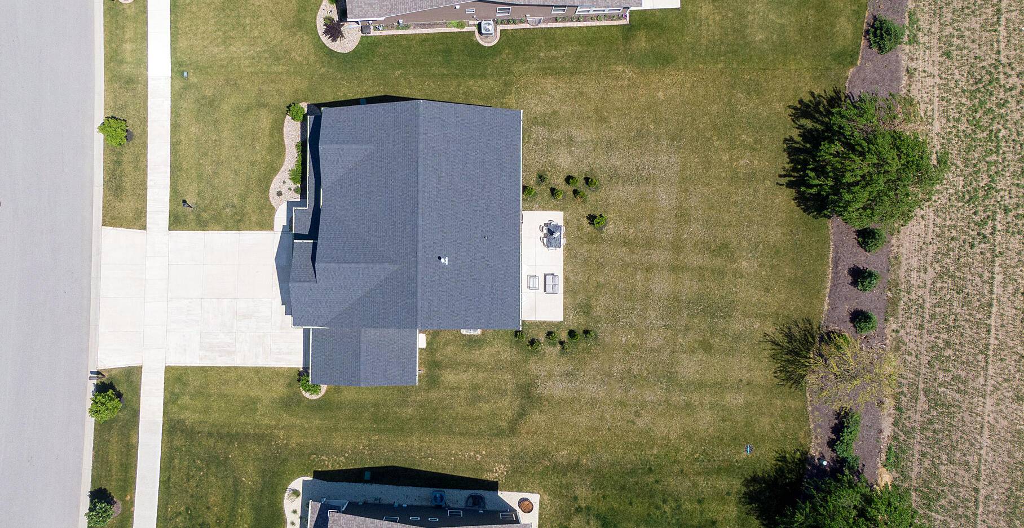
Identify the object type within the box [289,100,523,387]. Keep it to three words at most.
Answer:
house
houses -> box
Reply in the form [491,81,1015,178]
[289,100,523,387]
[306,499,535,528]
[346,0,639,25]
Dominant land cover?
grass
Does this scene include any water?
No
